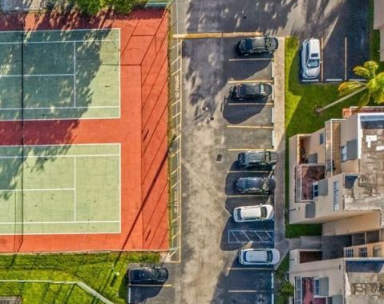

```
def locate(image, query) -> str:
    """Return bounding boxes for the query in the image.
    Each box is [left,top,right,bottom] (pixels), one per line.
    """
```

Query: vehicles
[233,176,275,194]
[300,39,322,81]
[237,247,281,266]
[126,265,169,285]
[232,204,275,223]
[237,36,278,56]
[231,82,272,101]
[236,148,280,169]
